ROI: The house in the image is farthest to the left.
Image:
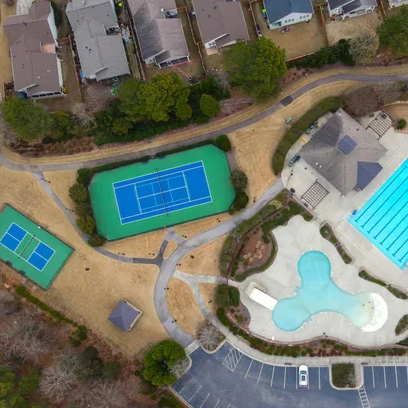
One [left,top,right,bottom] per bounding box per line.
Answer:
[4,2,64,98]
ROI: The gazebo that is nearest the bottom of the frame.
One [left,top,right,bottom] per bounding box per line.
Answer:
[107,298,146,332]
